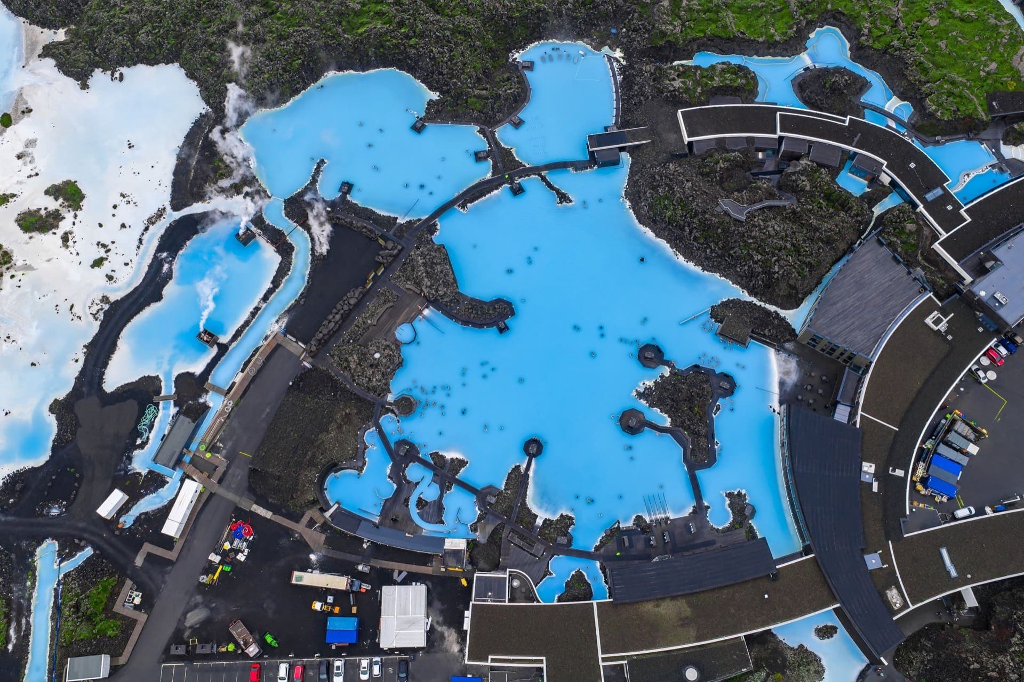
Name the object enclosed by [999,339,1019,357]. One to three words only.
car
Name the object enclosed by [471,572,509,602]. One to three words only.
building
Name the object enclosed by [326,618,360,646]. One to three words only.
tent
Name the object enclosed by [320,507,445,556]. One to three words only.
building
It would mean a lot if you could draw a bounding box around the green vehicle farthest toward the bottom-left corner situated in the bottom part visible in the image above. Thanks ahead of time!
[264,632,279,649]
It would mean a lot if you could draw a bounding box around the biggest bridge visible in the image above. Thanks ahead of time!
[414,159,593,233]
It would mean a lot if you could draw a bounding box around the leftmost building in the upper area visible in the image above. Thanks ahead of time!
[586,126,651,166]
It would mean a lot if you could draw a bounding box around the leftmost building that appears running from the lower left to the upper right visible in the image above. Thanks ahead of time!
[96,489,127,518]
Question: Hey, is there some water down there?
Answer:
Yes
